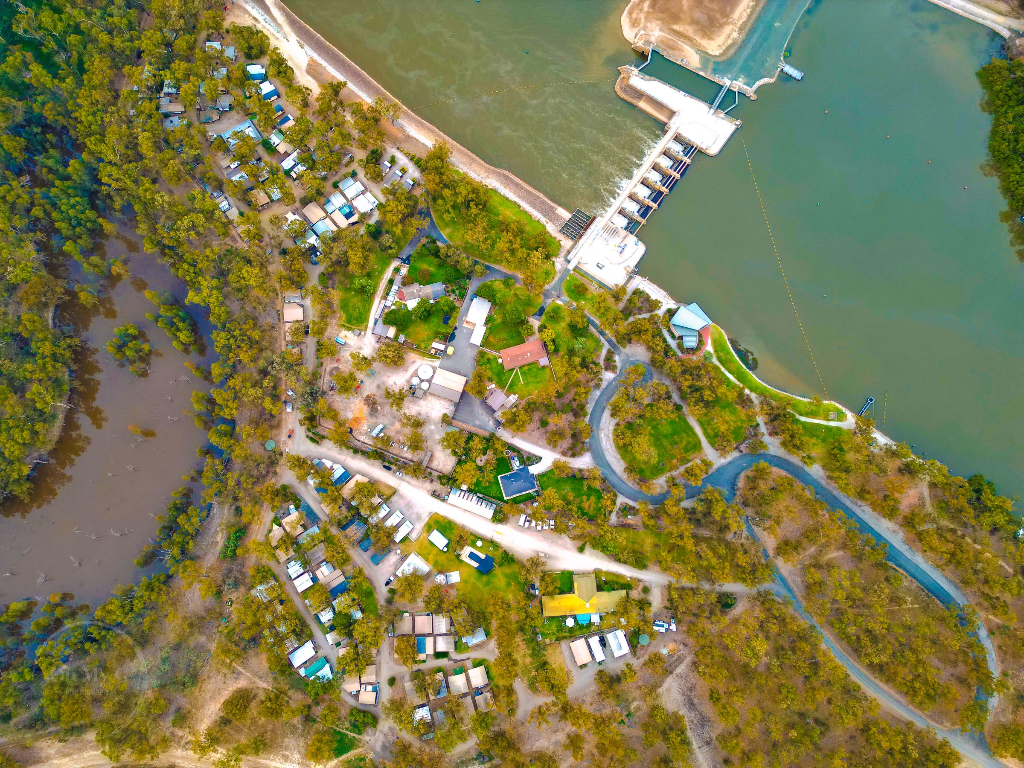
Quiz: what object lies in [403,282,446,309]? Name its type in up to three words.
house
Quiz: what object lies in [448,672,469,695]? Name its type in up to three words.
building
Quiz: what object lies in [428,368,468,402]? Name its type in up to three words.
shed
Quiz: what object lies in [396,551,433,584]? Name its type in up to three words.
building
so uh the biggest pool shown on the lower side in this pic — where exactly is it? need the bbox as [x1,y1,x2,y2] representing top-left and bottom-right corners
[459,546,486,570]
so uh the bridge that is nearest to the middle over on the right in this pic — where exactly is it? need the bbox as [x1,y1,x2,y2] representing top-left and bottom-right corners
[566,123,679,272]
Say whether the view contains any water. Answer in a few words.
Yes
